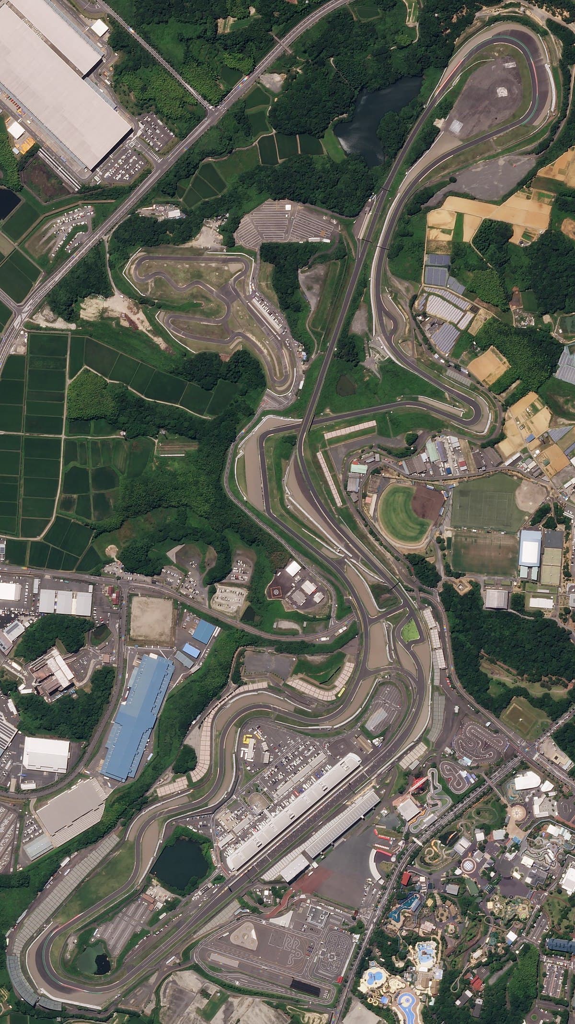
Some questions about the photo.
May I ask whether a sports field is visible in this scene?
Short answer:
Yes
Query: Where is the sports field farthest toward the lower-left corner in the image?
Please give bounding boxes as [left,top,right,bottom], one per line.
[129,596,172,642]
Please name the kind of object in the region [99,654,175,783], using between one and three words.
building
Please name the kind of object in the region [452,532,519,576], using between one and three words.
sports field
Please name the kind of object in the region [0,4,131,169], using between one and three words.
warehouse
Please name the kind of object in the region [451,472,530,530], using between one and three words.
sports field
